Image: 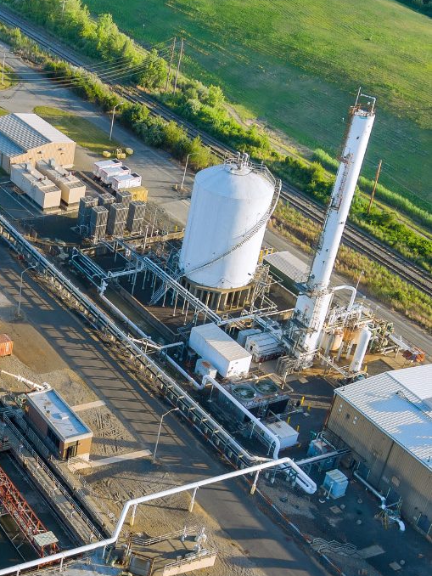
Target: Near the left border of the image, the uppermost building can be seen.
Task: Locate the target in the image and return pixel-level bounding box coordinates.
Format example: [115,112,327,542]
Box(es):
[0,108,78,169]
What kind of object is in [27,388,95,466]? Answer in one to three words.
building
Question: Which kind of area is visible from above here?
industrial area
